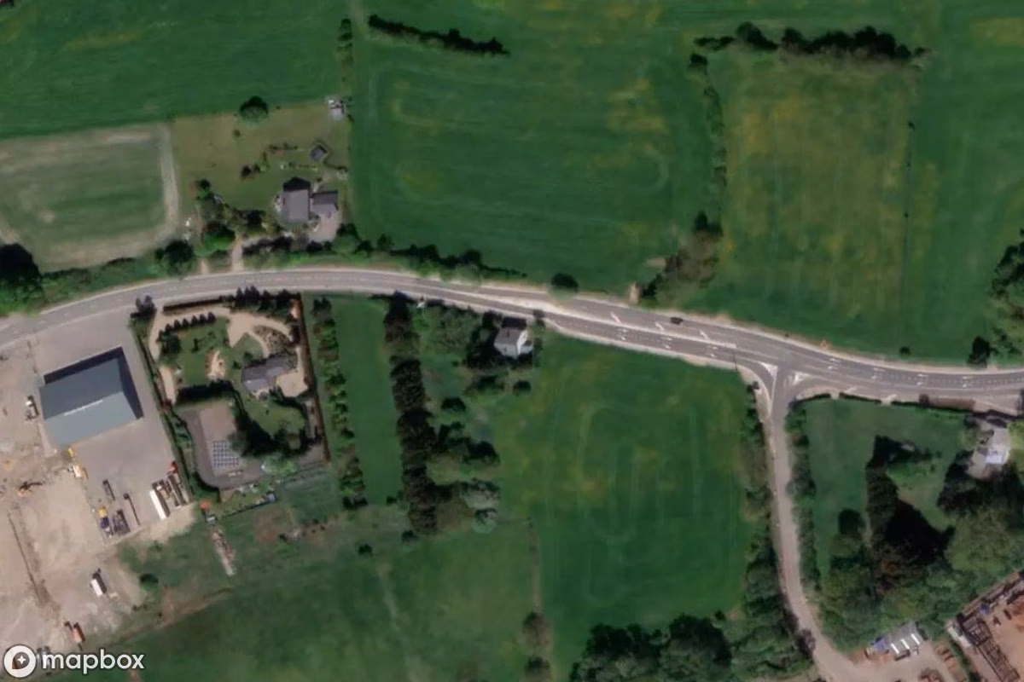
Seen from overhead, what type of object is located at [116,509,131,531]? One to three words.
vehicle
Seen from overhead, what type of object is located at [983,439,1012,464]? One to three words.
house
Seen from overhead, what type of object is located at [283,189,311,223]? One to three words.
house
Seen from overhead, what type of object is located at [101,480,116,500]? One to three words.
vehicle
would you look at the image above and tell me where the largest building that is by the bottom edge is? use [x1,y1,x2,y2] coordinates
[886,620,927,657]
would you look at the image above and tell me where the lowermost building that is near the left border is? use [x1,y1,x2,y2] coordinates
[37,358,144,447]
